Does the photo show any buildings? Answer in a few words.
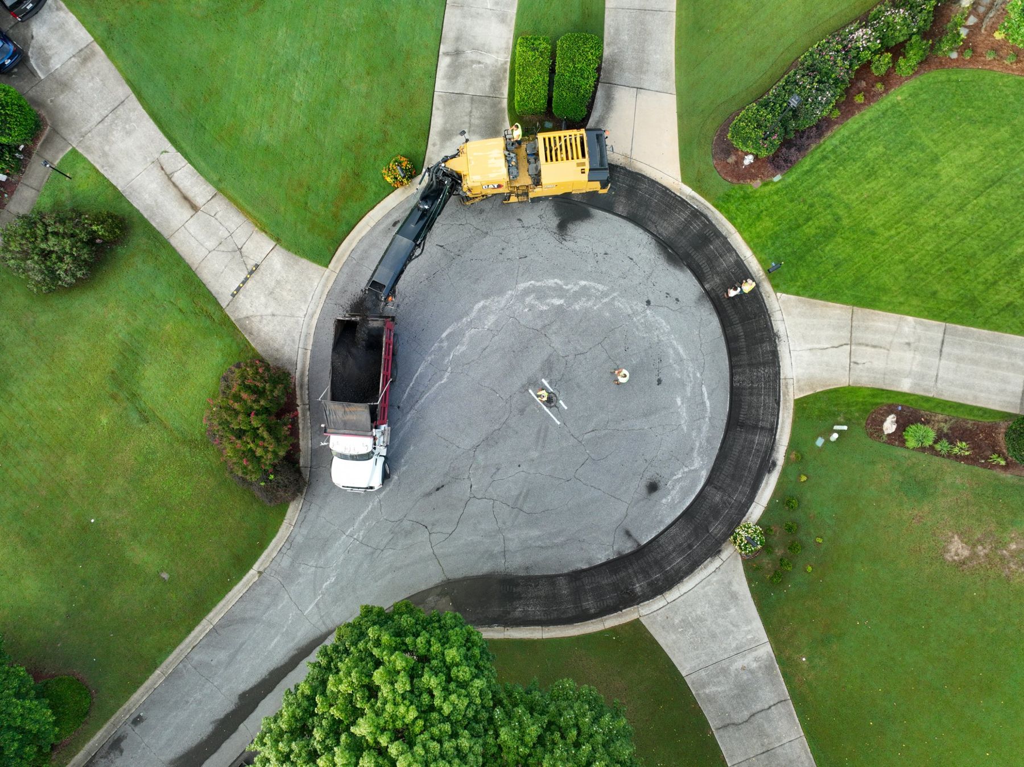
No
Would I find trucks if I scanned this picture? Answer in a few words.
Yes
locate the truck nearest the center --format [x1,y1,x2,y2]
[321,316,396,495]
